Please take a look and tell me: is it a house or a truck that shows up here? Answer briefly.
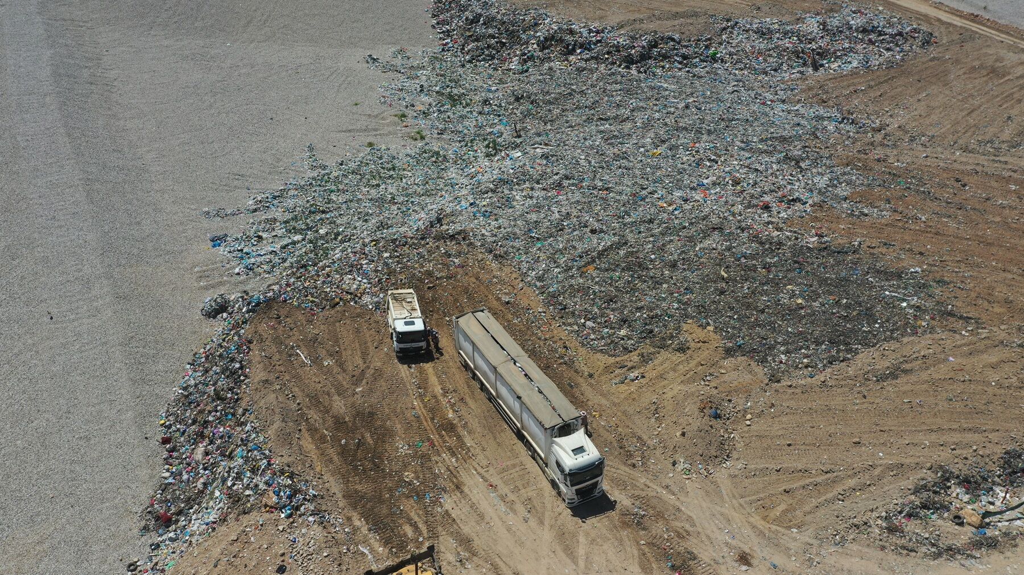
truck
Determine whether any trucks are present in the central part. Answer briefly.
Yes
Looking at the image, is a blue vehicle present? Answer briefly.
No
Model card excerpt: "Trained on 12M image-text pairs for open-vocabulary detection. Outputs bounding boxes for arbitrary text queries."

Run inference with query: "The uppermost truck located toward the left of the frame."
[385,286,429,358]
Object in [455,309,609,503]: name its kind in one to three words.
truck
